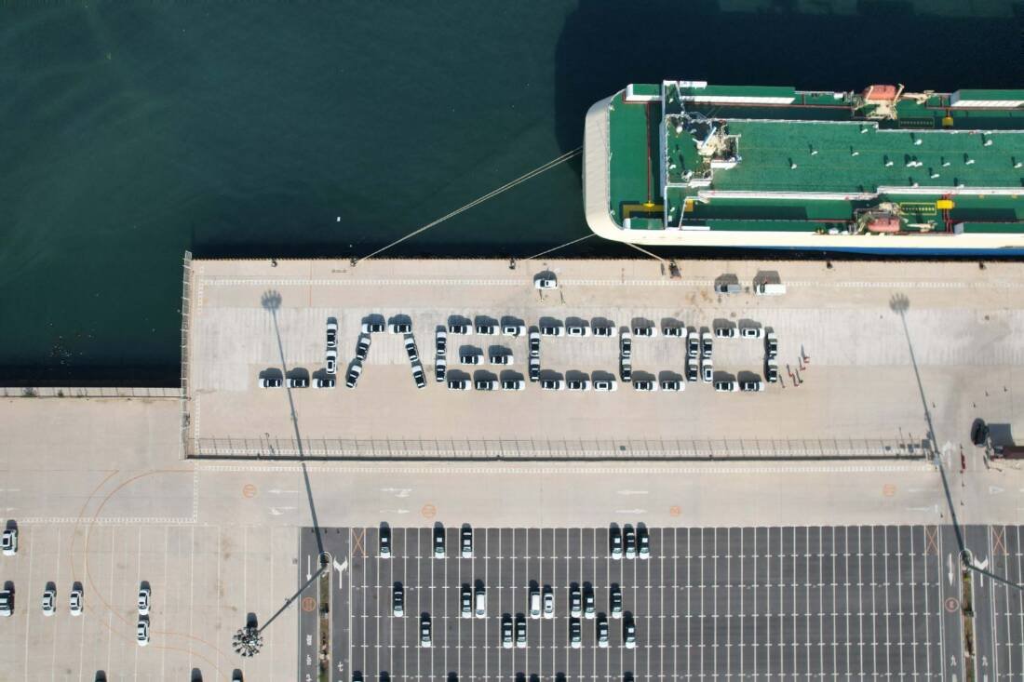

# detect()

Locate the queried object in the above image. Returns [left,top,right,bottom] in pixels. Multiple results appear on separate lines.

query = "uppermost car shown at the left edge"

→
[2,530,18,554]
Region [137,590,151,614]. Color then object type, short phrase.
white car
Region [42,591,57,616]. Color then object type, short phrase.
white car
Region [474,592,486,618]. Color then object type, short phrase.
white vehicle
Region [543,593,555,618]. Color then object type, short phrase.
white vehicle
